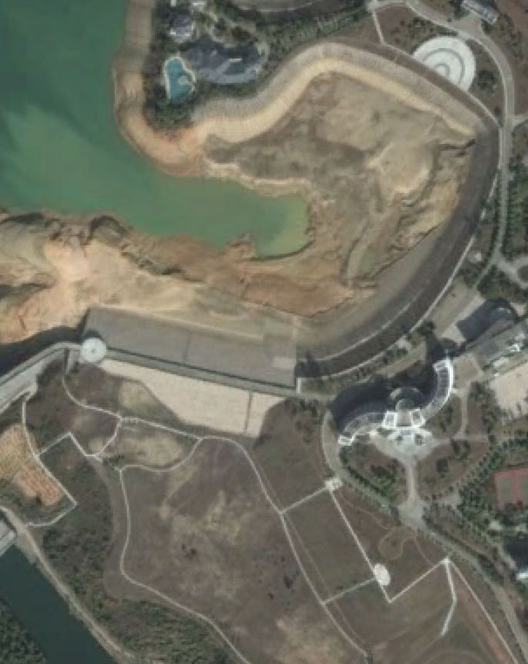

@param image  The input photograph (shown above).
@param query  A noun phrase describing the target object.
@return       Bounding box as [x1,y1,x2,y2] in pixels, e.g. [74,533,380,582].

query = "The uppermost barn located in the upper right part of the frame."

[463,0,501,25]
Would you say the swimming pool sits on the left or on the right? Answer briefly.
left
